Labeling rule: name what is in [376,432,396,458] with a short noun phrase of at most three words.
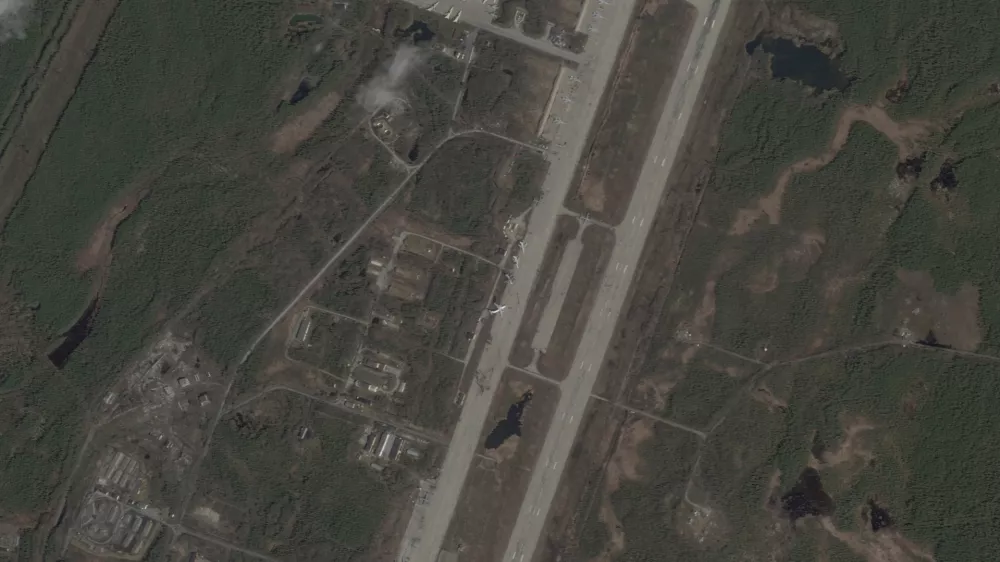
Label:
hangar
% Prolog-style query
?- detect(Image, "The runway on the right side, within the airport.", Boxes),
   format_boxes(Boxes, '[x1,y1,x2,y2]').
[503,0,730,562]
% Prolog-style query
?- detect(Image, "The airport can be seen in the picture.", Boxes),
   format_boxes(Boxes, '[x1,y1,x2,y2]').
[394,0,730,562]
